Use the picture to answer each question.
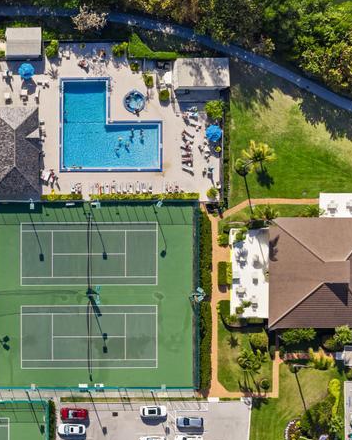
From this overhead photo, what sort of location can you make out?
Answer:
sports ground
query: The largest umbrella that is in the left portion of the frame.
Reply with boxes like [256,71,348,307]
[18,63,34,79]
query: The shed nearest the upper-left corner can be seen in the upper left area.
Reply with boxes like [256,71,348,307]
[6,27,42,61]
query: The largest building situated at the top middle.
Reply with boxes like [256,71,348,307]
[170,58,231,90]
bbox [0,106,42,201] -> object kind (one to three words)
building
